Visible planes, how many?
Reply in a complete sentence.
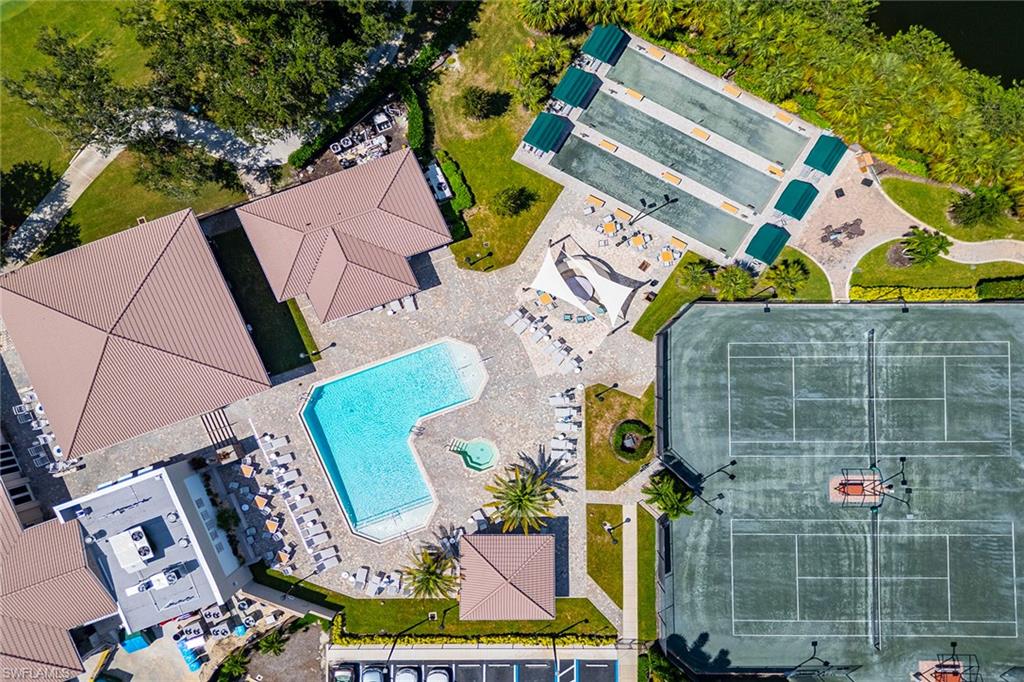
There are no planes in the image.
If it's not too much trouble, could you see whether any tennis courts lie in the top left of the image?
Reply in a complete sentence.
No, in the top left of the image there is no tennis court.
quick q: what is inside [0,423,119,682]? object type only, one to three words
building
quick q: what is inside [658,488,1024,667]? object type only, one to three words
tennis court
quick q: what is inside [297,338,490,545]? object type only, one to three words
swimming pool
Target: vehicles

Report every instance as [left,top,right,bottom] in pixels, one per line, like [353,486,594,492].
[331,666,354,682]
[395,669,417,682]
[362,668,384,682]
[427,670,449,682]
